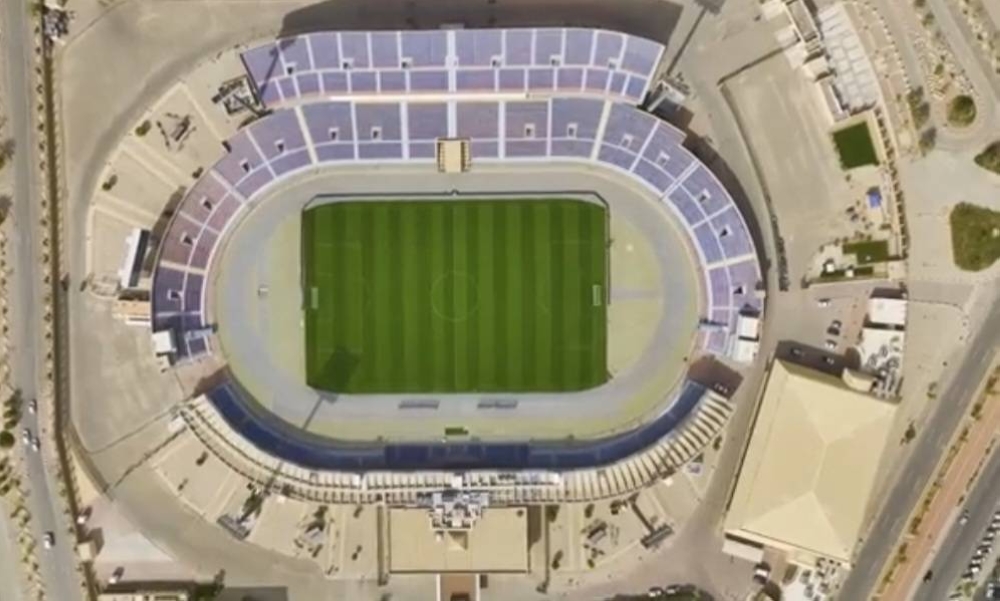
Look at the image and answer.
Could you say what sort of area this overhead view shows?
sports ground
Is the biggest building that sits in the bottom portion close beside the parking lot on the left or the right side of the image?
right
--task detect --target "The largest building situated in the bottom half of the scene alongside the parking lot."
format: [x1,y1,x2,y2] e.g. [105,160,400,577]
[720,351,900,569]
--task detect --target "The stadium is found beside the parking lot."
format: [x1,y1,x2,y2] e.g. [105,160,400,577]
[151,21,764,505]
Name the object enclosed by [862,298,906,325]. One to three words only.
building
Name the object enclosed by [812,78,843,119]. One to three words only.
building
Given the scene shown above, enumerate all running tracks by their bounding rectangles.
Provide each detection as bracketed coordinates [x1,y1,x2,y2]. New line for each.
[201,157,712,448]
